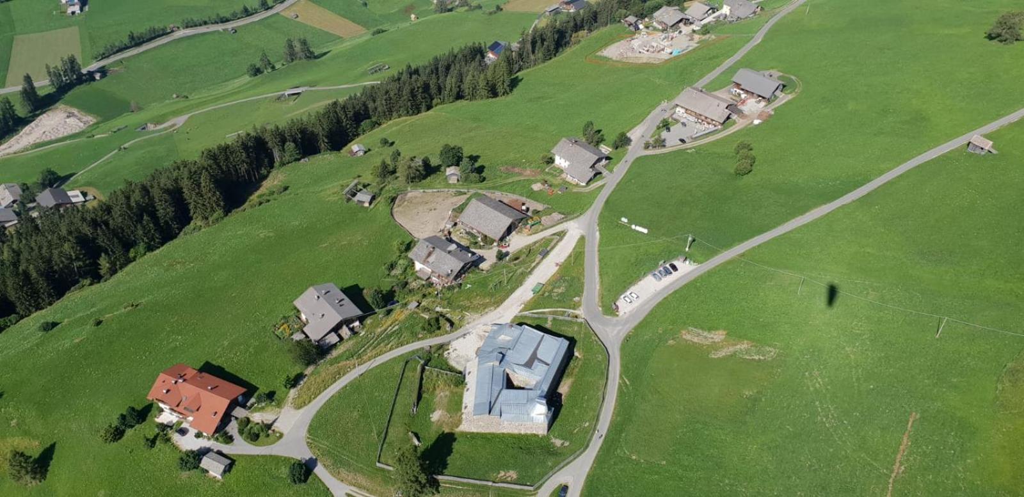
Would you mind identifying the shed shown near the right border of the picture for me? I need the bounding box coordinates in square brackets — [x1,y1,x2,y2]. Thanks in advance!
[966,135,996,155]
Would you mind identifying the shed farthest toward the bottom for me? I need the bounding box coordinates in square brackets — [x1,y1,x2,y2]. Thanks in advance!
[201,454,234,478]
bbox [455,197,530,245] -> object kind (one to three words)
barn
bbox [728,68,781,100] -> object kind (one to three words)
barn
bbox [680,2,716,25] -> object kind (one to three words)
house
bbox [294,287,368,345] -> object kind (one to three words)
house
